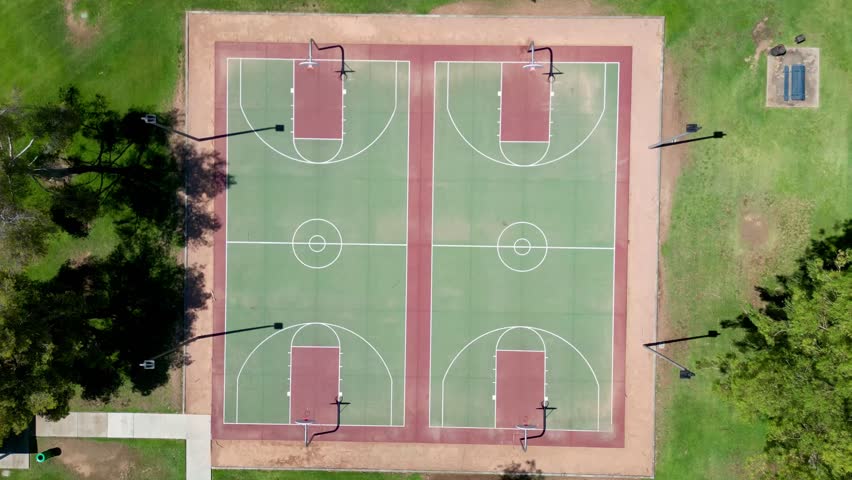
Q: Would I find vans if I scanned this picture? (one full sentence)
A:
No, no van can be seen from above.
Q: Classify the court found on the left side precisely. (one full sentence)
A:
It turns out the court found on the left side is a basketball court.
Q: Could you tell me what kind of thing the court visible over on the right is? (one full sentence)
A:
In the photo, the court visible over on the right shows up as a basketball court.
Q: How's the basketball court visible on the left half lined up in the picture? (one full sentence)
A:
In this picture, the basketball court visible on the left half lies vertically.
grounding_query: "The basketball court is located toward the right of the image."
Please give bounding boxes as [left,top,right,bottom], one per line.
[429,61,620,432]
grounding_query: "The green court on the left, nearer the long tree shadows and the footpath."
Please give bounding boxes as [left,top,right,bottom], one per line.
[224,58,410,428]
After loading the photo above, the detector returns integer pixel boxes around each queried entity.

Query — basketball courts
[429,61,620,432]
[224,58,410,428]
